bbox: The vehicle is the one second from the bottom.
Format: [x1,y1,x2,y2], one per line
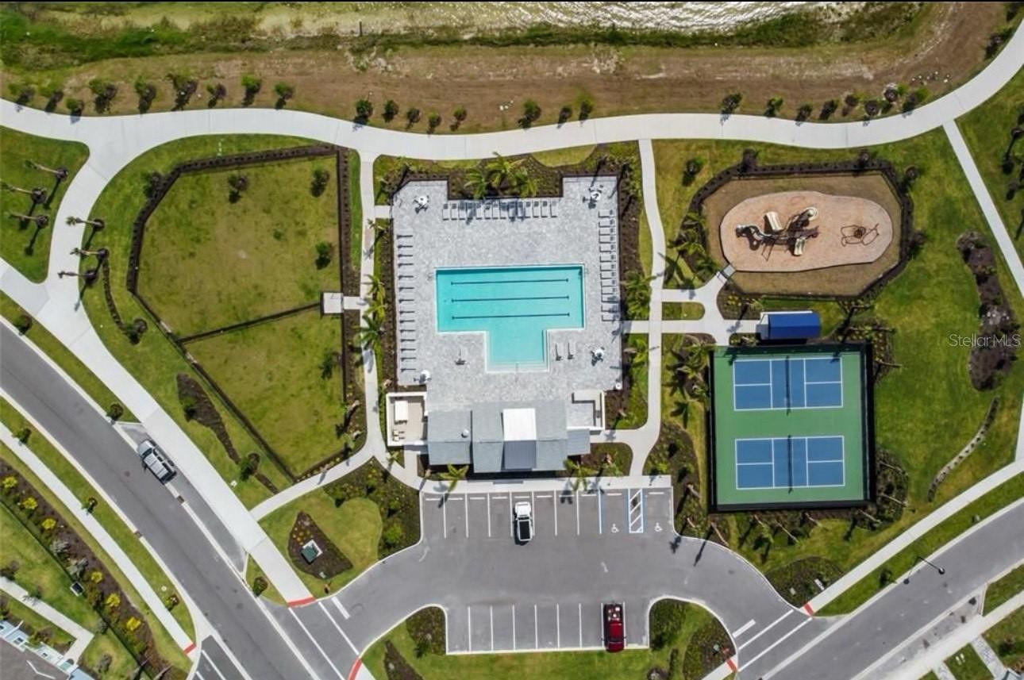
[514,503,532,545]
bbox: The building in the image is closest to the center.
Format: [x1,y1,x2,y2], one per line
[387,390,605,473]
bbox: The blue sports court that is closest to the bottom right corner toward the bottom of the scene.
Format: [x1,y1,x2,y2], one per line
[735,435,846,492]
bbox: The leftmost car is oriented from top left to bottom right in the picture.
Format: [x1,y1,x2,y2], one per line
[137,441,176,485]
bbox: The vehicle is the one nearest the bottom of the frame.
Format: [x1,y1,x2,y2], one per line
[604,602,624,652]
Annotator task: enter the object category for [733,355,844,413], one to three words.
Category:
sports court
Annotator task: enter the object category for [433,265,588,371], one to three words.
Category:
swimming pool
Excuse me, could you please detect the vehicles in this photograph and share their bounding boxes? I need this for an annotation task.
[137,441,176,485]
[514,503,532,545]
[604,602,624,652]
